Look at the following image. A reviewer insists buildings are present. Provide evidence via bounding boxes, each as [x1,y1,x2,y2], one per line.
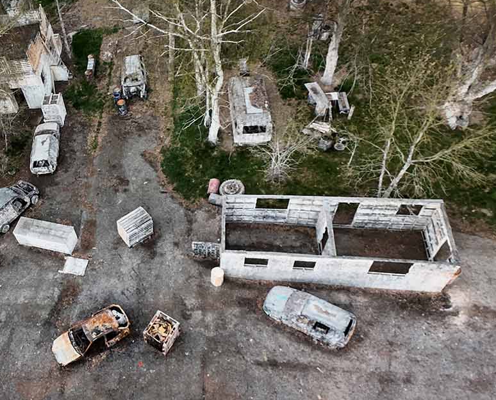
[221,195,462,292]
[0,6,73,109]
